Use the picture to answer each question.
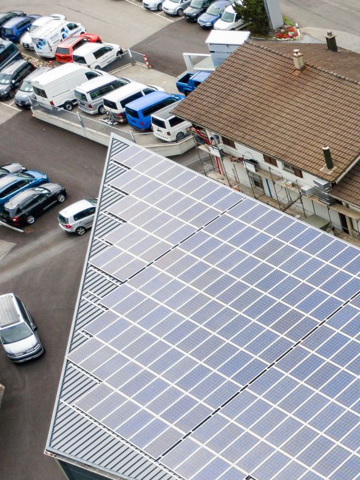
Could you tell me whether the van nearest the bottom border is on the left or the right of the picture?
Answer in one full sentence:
You can find the van nearest the bottom border on the left side of the picture.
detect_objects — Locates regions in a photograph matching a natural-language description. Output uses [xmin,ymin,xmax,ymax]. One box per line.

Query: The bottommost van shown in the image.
[0,299,43,365]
